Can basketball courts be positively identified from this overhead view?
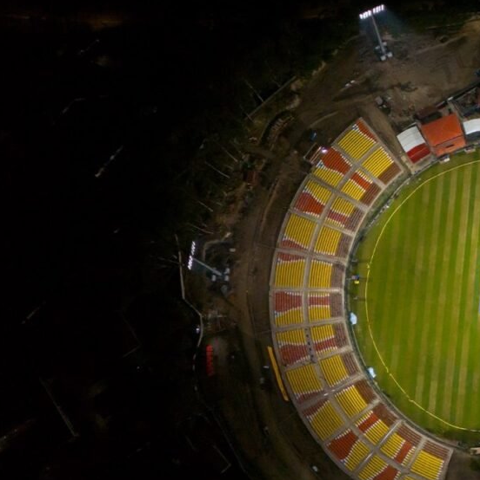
No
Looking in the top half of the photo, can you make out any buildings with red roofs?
Yes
